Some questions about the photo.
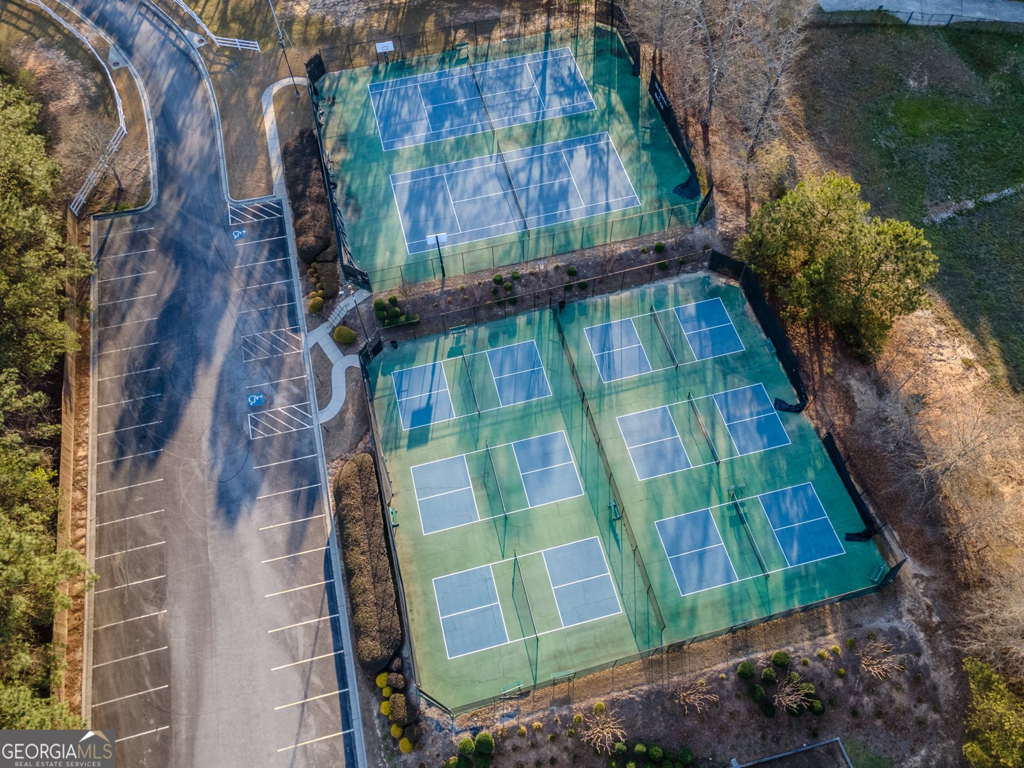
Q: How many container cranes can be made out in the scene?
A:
zero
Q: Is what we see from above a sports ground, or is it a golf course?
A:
sports ground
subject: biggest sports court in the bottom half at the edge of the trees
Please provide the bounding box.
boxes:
[369,270,888,716]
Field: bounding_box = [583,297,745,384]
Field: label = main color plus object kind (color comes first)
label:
blue sports court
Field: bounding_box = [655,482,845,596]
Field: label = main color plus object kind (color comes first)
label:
blue sports court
